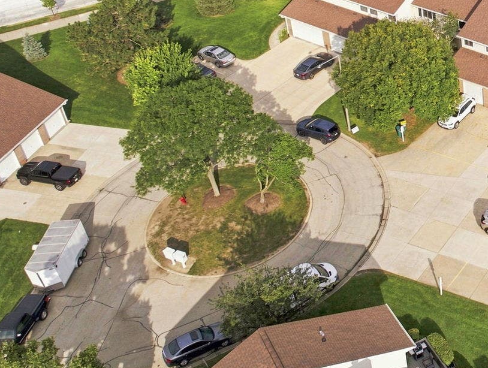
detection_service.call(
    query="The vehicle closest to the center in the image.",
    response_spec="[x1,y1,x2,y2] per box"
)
[292,116,343,144]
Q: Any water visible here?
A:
No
